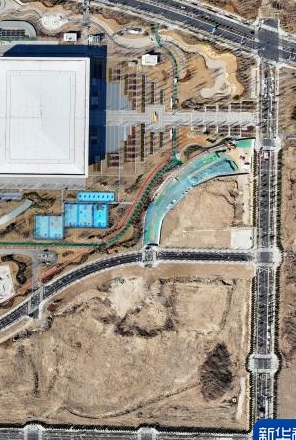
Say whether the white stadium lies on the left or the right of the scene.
left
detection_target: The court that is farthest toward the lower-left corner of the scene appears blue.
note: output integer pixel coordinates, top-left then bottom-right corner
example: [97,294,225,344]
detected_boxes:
[33,214,65,240]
